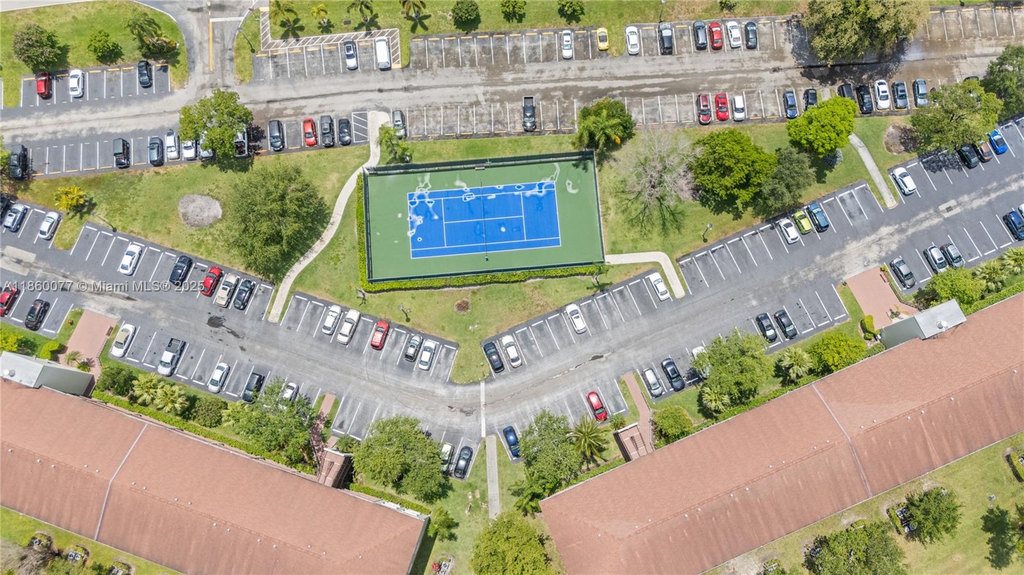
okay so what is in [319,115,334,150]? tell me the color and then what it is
gray vehicle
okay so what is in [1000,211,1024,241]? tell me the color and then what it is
blue car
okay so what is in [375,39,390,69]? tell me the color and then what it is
white vehicle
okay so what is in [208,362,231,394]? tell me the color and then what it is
white car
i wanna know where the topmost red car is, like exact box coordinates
[708,24,722,50]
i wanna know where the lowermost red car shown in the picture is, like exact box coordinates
[586,389,609,423]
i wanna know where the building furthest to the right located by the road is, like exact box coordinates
[538,289,1024,575]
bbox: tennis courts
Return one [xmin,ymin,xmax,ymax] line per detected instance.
[368,161,600,280]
